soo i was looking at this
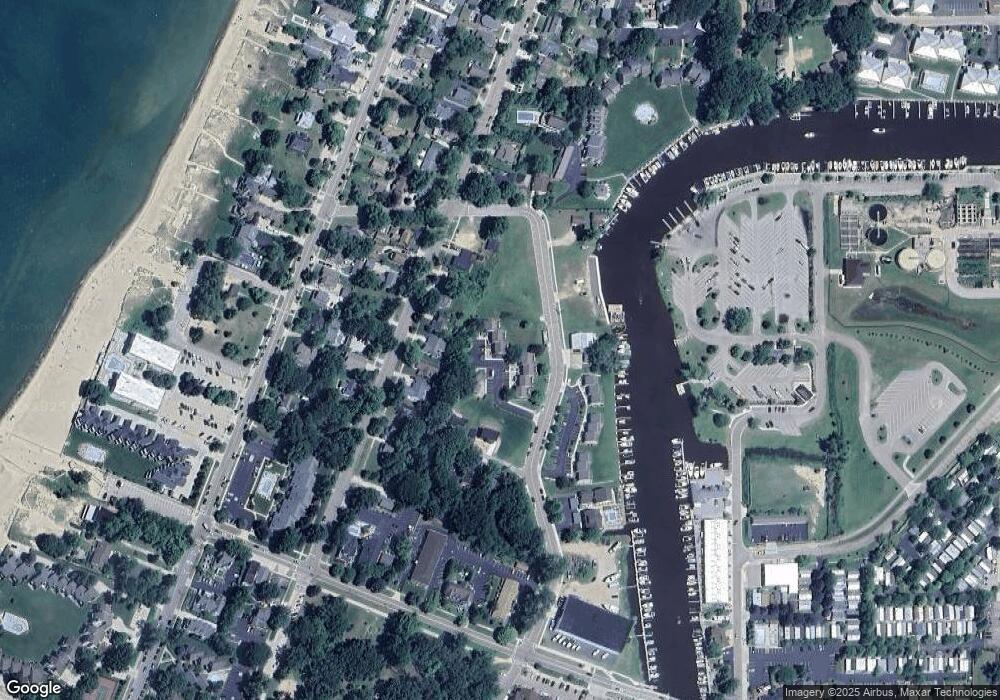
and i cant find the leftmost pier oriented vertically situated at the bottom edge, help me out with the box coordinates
[631,531,660,679]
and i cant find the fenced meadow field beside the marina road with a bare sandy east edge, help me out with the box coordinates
[752,462,821,508]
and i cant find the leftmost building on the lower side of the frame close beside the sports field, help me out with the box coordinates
[703,519,729,602]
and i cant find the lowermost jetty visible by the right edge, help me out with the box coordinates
[702,159,965,190]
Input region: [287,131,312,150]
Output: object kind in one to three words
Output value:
house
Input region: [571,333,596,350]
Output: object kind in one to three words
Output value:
shed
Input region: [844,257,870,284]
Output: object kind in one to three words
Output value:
building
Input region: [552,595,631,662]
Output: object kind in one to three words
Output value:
building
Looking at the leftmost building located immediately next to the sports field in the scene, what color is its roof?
white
